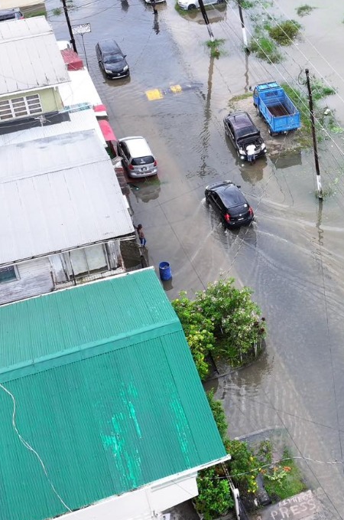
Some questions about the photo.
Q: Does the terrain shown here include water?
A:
Yes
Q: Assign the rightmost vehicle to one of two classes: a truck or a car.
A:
truck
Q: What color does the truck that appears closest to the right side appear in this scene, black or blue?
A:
blue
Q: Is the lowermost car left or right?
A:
right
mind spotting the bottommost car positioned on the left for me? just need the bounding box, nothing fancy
[110,130,155,179]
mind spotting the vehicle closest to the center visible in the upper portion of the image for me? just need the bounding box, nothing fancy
[198,176,256,227]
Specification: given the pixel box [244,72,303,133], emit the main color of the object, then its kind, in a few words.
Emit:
blue truck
